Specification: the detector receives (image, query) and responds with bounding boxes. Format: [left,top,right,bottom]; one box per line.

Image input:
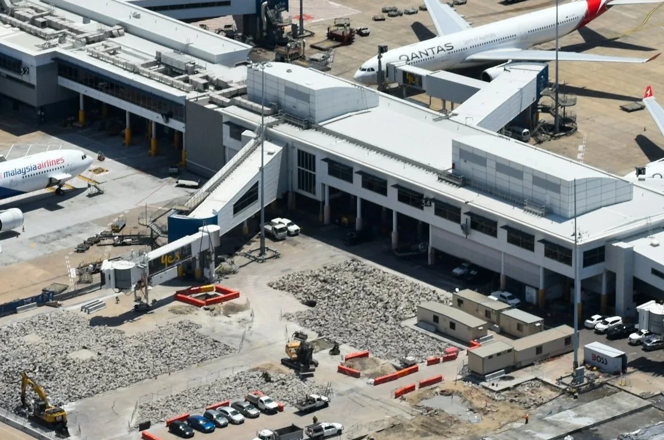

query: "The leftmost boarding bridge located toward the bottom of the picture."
[88,228,226,307]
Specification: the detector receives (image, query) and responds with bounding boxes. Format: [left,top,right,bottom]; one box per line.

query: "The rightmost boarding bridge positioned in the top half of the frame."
[343,59,502,131]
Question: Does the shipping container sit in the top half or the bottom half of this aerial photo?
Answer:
bottom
